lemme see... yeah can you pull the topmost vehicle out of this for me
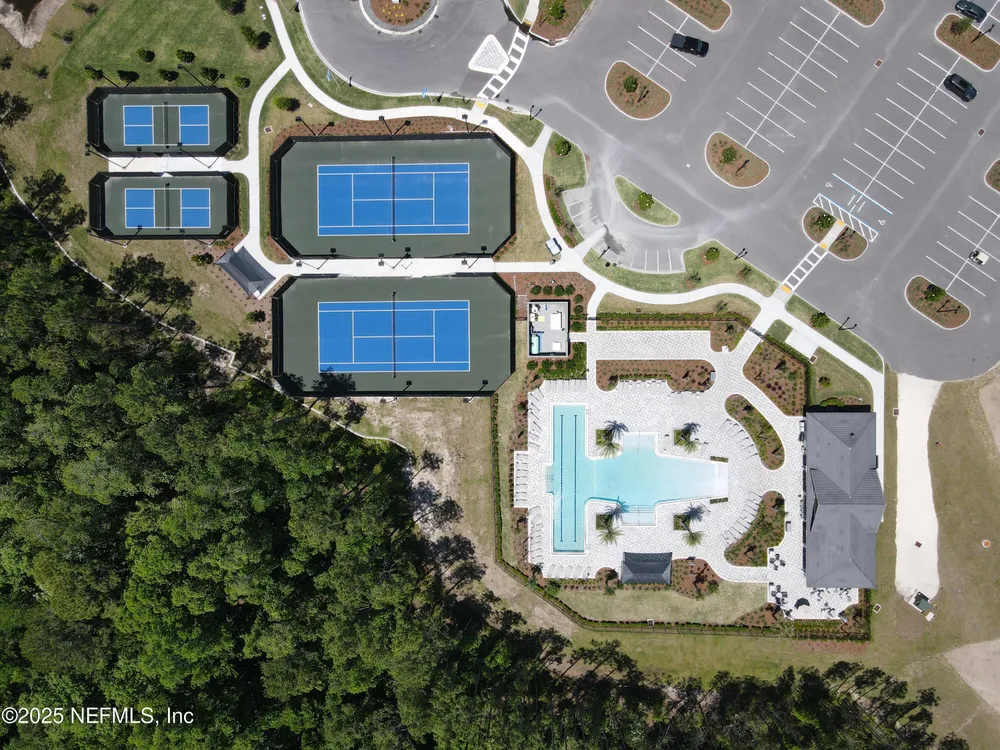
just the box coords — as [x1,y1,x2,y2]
[954,0,988,22]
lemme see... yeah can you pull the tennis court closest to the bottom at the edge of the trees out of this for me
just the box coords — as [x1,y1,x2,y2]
[277,277,511,396]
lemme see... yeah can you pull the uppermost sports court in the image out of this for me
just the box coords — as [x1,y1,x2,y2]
[99,95,226,157]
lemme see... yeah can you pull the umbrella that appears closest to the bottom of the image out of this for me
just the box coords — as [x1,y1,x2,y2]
[795,604,812,619]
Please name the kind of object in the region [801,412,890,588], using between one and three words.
building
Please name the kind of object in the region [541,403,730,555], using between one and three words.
swimming pool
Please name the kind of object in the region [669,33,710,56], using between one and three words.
truck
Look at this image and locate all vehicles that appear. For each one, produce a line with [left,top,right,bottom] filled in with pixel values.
[954,0,988,22]
[547,238,561,257]
[669,33,710,56]
[944,74,976,103]
[969,252,991,266]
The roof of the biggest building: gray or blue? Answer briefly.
gray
